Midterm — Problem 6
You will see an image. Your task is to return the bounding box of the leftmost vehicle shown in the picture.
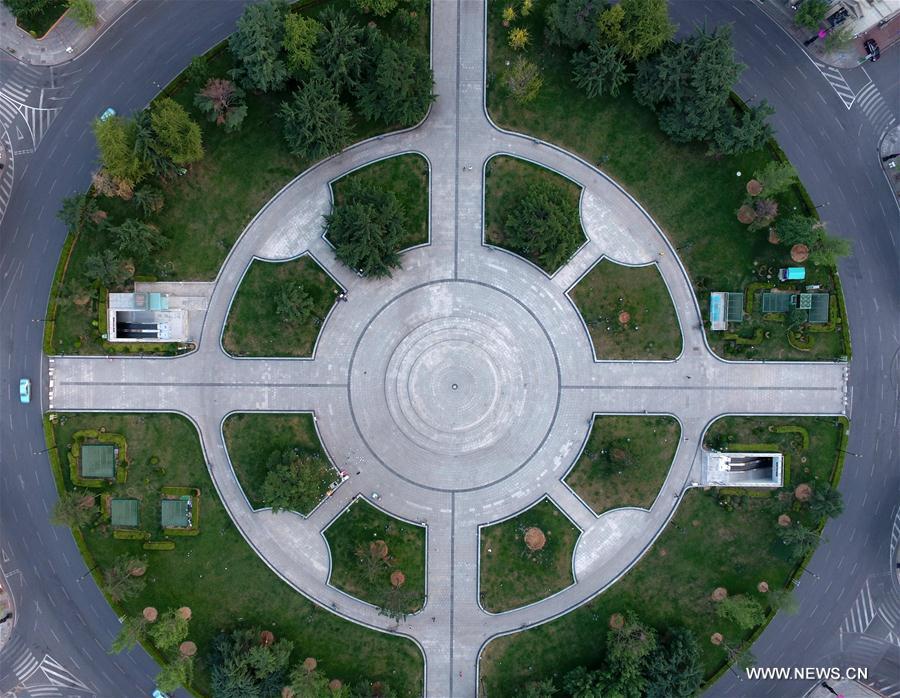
[17,379,30,404]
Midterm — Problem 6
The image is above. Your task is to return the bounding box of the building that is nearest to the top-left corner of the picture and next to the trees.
[109,293,171,309]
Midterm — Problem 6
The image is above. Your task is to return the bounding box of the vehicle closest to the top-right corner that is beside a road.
[865,35,880,60]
